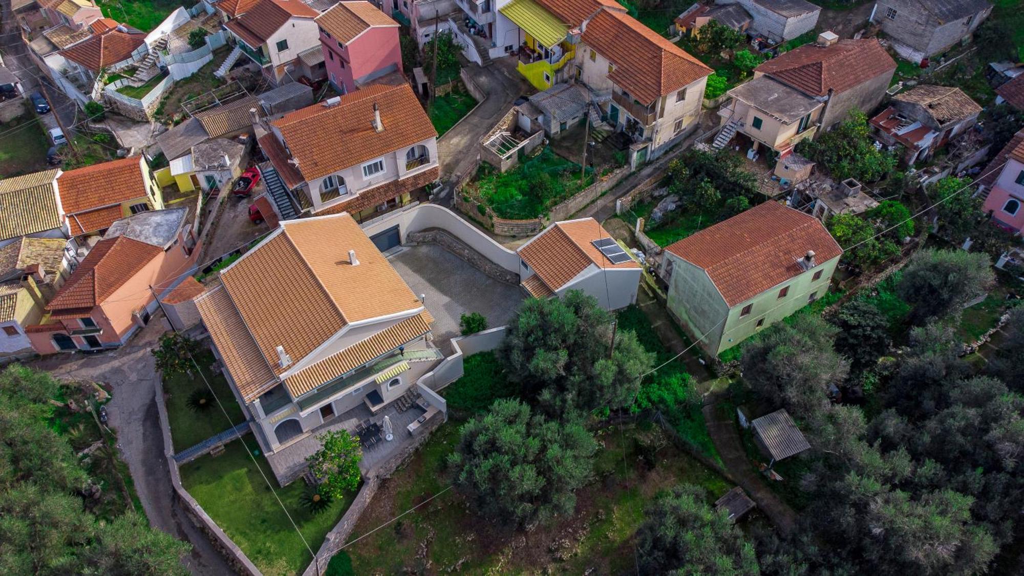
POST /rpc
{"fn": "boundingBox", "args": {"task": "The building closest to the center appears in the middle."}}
[516,216,642,324]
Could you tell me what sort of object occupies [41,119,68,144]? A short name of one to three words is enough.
car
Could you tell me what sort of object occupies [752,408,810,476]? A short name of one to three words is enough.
shed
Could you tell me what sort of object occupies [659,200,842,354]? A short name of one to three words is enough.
building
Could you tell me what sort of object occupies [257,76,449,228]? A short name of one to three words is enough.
house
